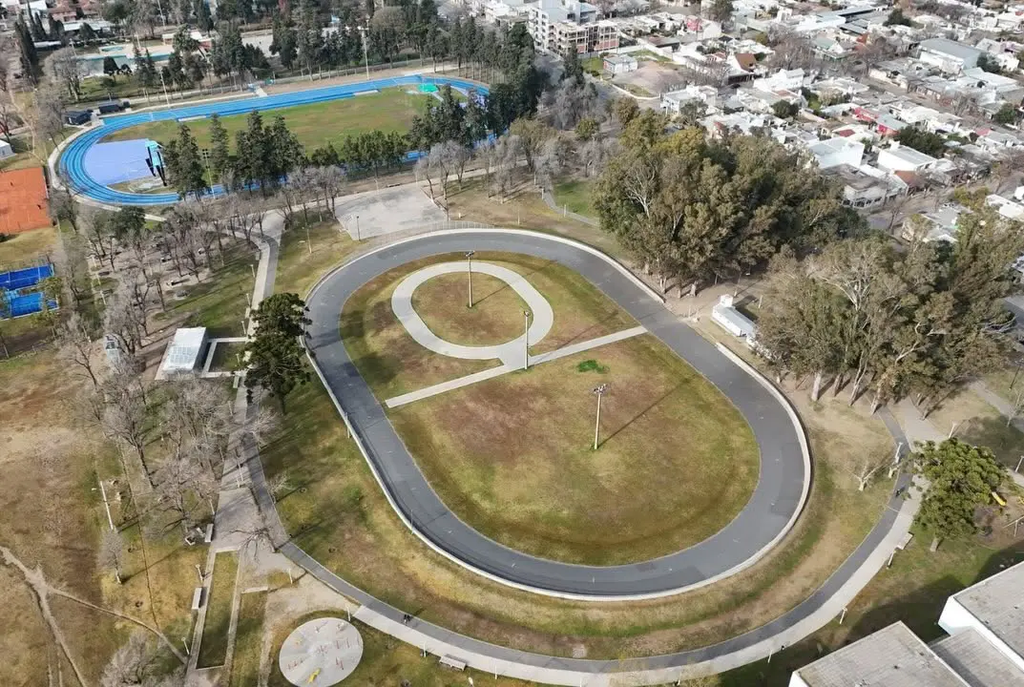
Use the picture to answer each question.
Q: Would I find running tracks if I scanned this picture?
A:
Yes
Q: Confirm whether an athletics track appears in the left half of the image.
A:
Yes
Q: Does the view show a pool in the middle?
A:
No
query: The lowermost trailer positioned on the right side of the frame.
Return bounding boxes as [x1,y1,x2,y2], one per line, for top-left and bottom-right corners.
[713,303,757,339]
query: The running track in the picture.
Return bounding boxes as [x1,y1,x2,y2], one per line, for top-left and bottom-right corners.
[55,76,519,204]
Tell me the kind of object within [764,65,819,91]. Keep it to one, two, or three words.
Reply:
house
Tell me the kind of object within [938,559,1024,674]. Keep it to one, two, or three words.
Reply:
building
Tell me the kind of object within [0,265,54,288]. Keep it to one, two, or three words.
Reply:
sports court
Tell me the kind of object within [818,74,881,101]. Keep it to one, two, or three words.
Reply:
house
